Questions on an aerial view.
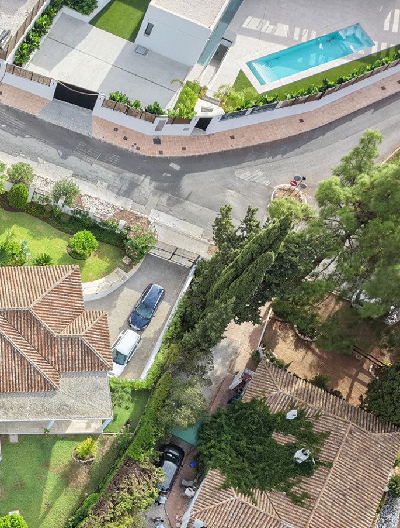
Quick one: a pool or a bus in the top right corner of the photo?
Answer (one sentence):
Looking in the top right corner of the photo, you will find a pool.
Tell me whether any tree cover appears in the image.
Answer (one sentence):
Yes, tree cover shows up in the scene.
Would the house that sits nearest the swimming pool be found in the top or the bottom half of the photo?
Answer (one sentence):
Seen from above, the house that sits nearest the swimming pool lies in the top half of the view.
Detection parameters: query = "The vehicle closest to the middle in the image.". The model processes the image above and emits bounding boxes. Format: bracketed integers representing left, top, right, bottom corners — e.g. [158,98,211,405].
[129,280,165,327]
